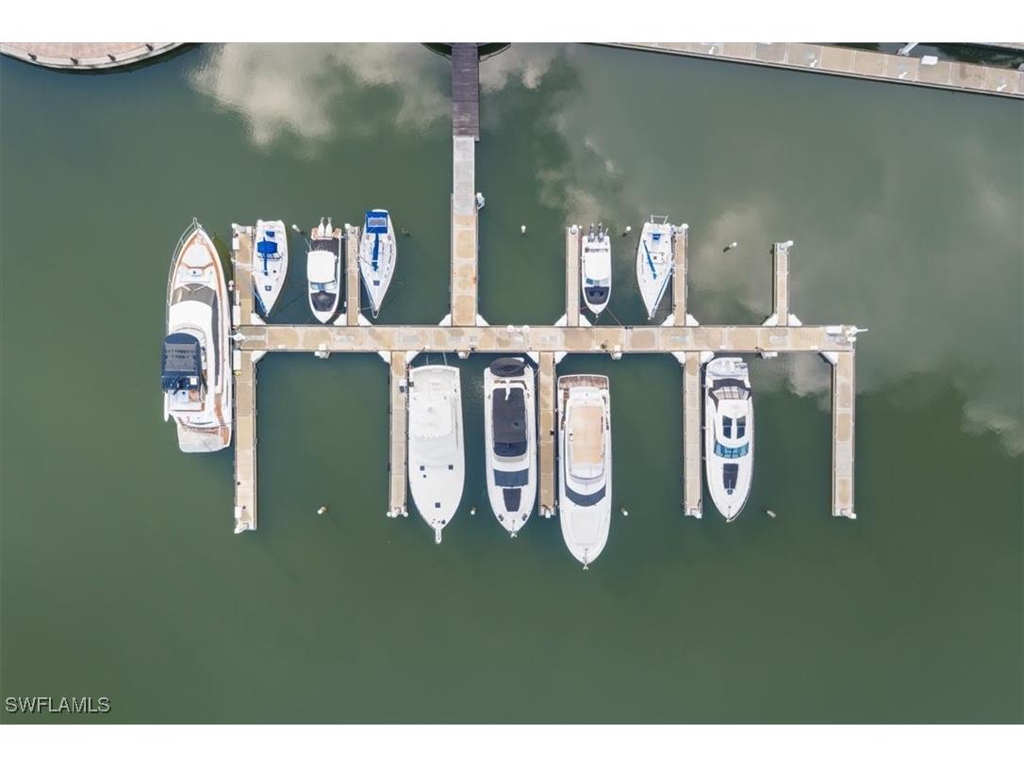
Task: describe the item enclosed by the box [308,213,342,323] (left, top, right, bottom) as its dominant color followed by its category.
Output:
white boat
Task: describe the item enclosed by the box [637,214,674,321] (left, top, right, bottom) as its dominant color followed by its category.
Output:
white boat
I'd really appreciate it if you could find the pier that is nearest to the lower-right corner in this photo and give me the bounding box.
[818,352,855,516]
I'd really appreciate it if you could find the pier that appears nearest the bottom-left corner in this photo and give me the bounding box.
[235,352,271,531]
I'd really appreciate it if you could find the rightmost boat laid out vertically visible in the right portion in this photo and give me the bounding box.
[704,359,756,522]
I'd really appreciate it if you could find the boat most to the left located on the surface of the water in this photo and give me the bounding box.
[161,218,235,453]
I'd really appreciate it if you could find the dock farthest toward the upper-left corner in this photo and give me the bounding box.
[233,224,269,326]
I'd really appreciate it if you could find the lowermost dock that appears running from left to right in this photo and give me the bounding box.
[235,326,854,352]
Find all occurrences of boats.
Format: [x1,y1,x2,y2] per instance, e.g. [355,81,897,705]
[637,214,674,321]
[707,356,747,377]
[484,364,537,540]
[490,357,526,377]
[558,375,613,572]
[408,364,465,543]
[161,218,235,453]
[357,209,397,318]
[704,359,756,522]
[234,219,288,318]
[308,213,342,323]
[581,221,611,319]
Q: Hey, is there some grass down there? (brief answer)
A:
No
